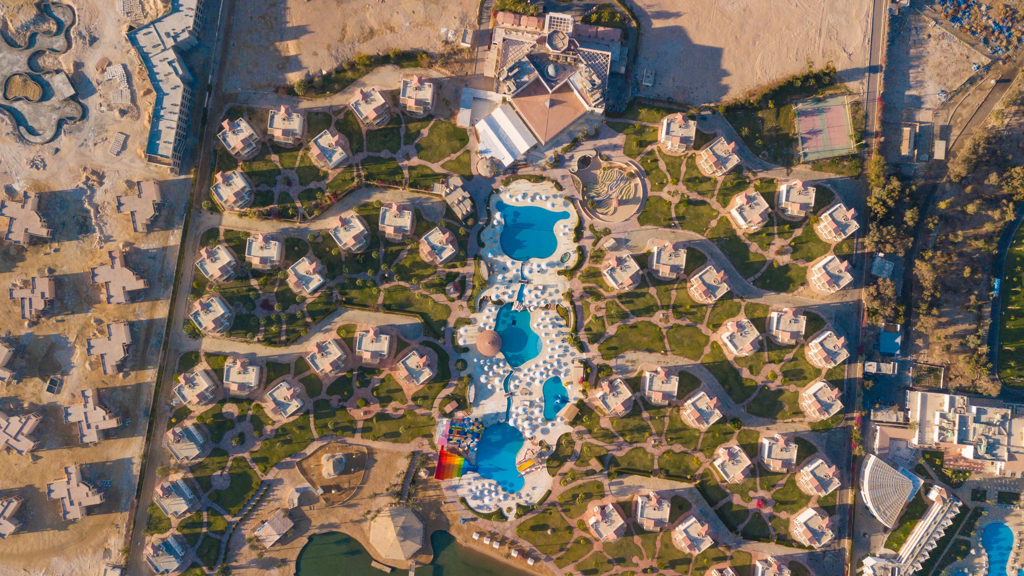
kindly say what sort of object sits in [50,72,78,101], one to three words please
building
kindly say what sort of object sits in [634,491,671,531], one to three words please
house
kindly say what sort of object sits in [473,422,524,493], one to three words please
swimming pool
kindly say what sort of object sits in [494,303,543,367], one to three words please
swimming pool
